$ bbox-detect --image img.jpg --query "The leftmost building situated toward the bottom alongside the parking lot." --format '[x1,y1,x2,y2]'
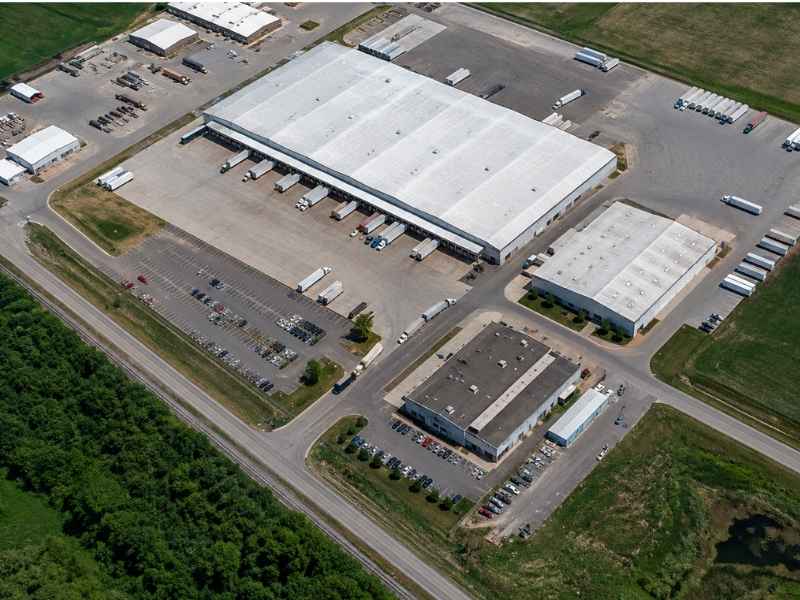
[402,320,581,462]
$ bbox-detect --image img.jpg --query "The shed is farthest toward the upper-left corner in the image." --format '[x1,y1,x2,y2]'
[11,84,43,104]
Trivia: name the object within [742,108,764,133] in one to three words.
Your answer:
truck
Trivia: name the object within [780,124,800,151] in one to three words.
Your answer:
vehicle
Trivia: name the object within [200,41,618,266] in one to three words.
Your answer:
warehouse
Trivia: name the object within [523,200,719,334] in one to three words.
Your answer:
building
